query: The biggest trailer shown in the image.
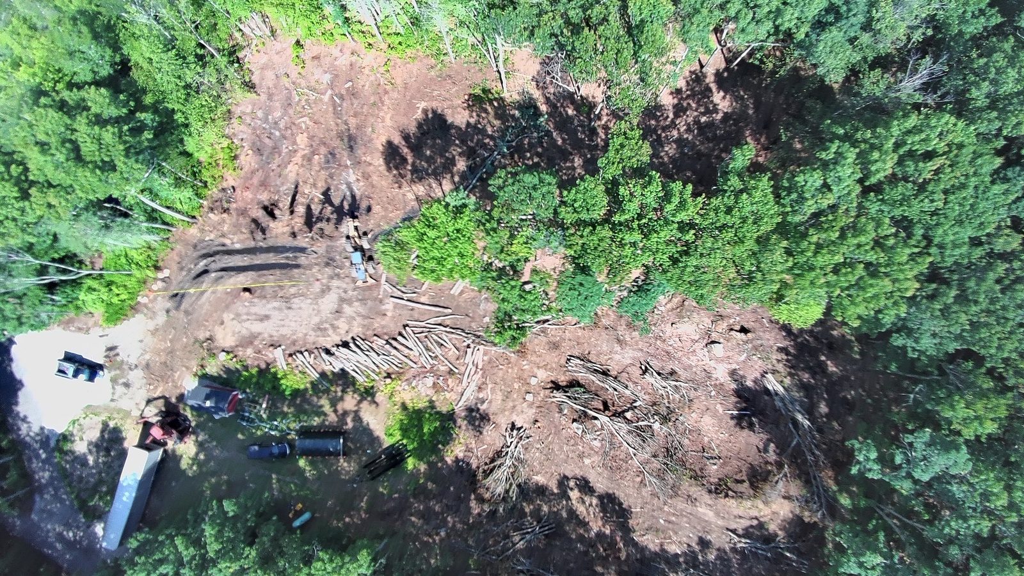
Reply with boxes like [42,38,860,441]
[100,441,161,551]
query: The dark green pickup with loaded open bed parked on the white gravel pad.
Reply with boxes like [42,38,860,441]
[49,357,102,382]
